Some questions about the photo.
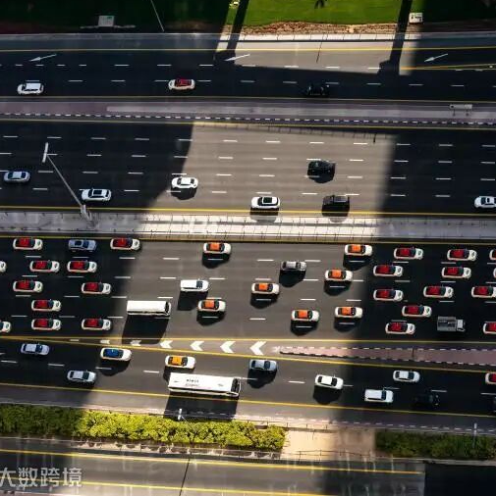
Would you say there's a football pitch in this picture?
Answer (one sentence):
No, I find no football pitch anywhere in the image.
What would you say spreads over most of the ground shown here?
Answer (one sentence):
What you mostly see from above here is paved ground.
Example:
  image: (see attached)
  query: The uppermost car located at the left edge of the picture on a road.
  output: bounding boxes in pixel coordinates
[18,81,43,93]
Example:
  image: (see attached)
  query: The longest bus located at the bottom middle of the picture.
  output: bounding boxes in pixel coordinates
[167,373,241,397]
